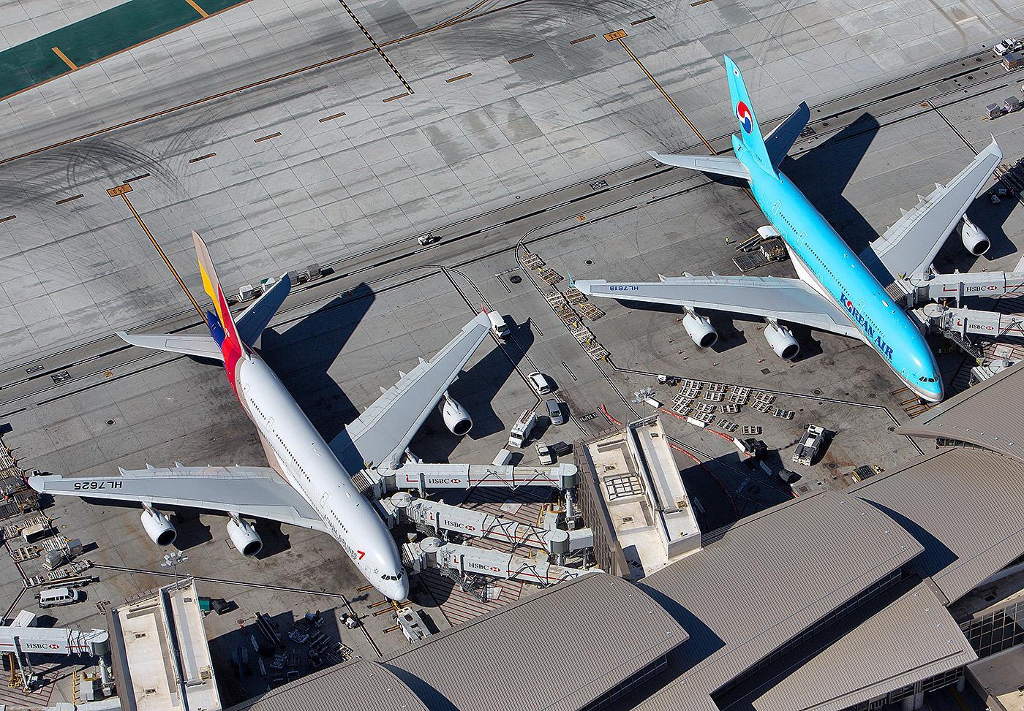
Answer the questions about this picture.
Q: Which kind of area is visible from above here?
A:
airport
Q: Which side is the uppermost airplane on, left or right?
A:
right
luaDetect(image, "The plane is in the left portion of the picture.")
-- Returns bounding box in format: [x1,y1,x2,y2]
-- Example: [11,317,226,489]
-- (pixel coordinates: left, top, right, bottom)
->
[20,228,490,603]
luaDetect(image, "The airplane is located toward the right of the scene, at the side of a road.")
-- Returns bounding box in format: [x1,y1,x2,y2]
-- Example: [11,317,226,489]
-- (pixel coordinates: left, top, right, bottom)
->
[566,53,1002,404]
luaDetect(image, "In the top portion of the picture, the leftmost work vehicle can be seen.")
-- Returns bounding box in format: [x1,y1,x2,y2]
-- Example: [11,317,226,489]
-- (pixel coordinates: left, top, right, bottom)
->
[416,229,436,246]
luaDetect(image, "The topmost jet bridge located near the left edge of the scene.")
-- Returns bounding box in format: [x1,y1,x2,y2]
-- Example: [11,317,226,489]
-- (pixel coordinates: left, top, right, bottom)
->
[0,628,120,702]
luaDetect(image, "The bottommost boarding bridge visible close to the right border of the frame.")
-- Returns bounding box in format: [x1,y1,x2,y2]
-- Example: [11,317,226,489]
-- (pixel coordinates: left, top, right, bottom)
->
[969,358,1024,391]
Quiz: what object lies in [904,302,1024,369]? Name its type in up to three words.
jet bridge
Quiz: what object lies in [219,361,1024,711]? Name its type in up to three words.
building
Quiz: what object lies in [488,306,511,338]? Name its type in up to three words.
vehicle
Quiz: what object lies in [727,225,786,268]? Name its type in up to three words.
work vehicle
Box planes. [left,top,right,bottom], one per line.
[20,228,490,603]
[566,53,1002,404]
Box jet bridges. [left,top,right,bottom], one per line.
[888,269,1024,338]
[34,694,131,711]
[969,358,1024,391]
[395,536,604,608]
[0,628,120,702]
[368,491,596,569]
[904,302,1024,369]
[353,457,583,530]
